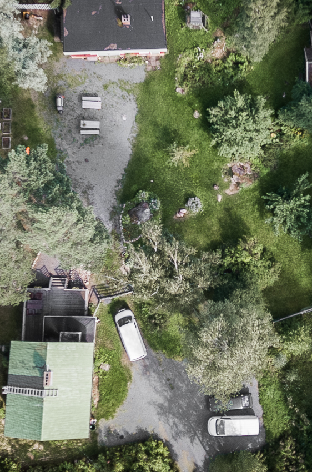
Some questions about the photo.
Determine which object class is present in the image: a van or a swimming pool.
van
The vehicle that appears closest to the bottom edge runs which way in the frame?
from side to side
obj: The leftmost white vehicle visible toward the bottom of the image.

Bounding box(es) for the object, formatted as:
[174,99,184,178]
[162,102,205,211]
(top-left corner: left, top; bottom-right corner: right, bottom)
[113,308,148,364]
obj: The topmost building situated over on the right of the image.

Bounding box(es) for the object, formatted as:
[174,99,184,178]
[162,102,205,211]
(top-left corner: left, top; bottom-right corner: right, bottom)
[189,11,210,34]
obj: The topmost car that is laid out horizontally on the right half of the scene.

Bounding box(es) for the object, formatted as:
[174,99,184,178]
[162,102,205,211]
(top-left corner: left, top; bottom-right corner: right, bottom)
[209,392,254,415]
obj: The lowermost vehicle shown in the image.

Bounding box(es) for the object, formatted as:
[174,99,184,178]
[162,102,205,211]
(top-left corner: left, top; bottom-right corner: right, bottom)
[205,414,260,441]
